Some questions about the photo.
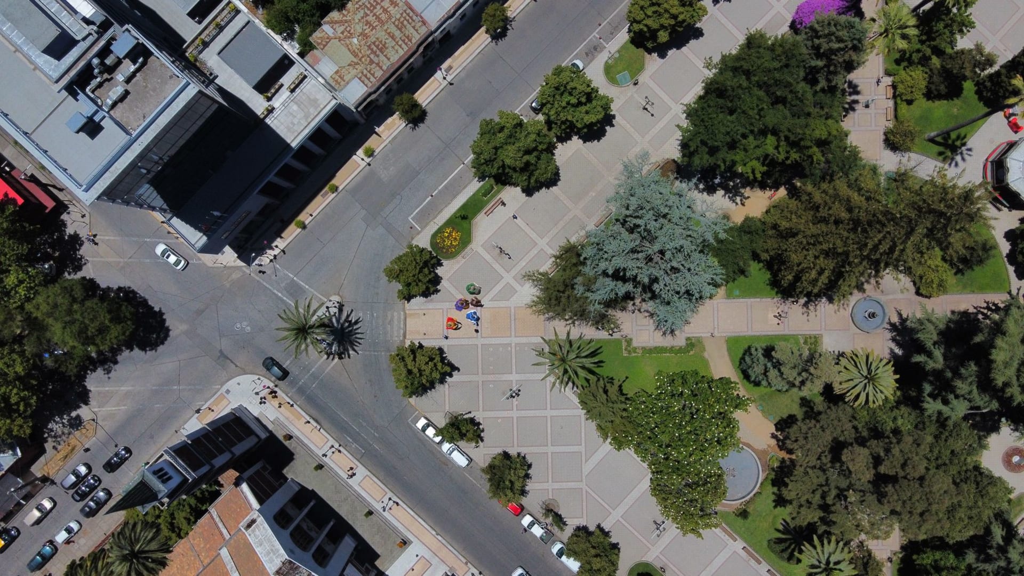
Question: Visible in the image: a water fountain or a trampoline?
water fountain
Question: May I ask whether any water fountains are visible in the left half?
No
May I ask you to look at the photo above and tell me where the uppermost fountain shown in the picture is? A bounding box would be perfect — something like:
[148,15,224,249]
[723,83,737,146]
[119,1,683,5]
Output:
[850,297,889,333]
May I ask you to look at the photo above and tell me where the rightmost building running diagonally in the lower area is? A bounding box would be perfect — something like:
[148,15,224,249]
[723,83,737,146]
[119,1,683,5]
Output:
[98,404,270,513]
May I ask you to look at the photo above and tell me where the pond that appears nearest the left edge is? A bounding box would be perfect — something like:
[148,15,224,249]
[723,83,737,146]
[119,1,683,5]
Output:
[701,445,762,506]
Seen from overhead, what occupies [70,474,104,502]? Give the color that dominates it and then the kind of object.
black car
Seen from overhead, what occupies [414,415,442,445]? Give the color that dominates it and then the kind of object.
white car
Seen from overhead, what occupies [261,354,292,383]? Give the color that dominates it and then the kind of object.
black car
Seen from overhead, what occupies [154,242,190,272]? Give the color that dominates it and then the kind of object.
white car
